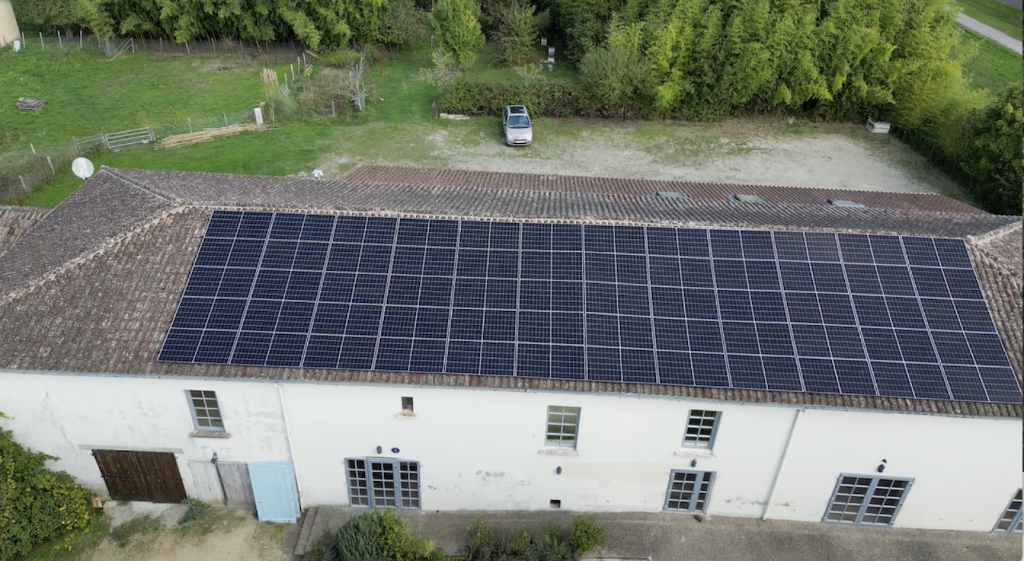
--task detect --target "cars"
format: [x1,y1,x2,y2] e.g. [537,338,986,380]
[502,107,534,146]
